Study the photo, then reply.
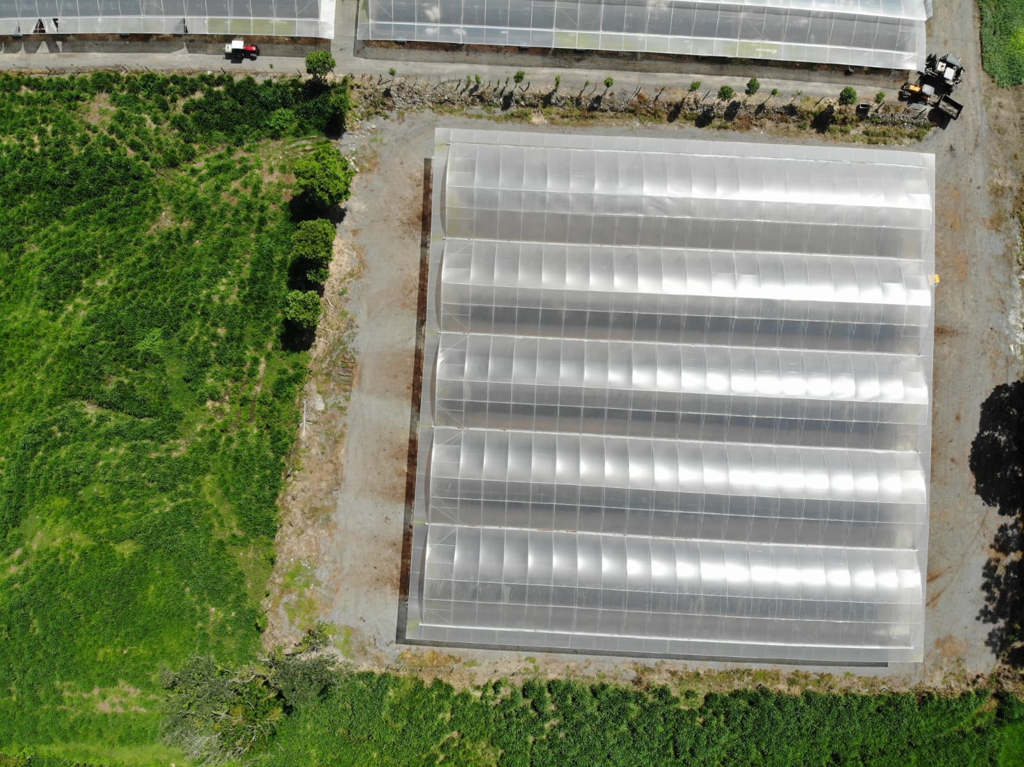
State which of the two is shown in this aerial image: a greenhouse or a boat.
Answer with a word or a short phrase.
greenhouse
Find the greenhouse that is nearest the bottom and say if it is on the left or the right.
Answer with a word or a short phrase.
right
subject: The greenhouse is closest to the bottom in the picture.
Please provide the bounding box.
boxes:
[406,128,935,663]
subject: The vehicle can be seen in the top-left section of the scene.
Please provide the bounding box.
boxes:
[227,40,263,59]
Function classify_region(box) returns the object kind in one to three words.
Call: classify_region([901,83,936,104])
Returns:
work vehicle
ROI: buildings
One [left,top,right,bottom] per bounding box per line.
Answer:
[406,128,935,663]
[359,0,925,71]
[0,0,339,38]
